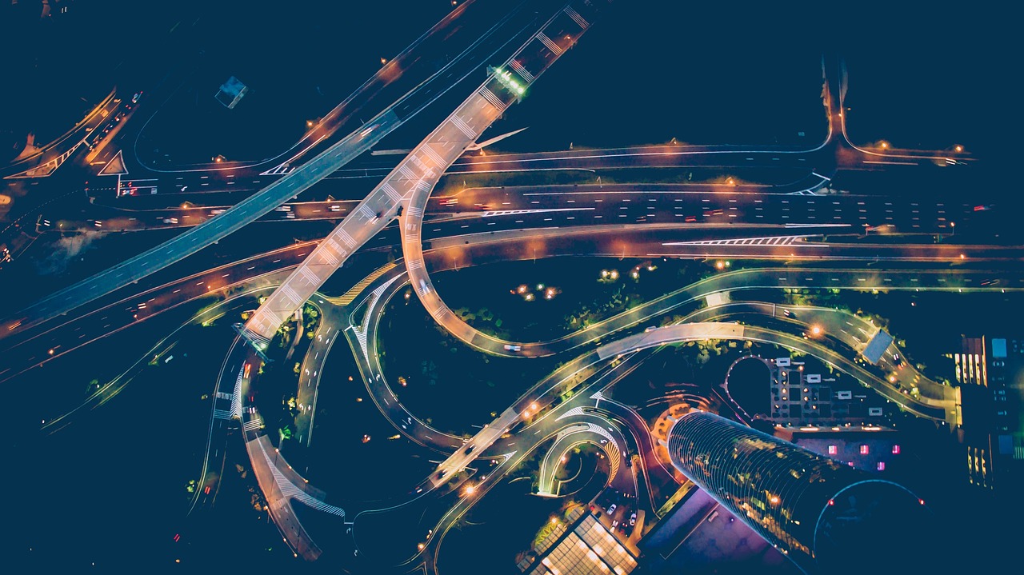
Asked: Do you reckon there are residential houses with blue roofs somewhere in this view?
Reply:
Yes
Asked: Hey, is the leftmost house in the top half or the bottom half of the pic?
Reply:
top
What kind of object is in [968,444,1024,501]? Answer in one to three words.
building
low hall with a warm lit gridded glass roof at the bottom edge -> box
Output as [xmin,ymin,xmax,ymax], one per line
[522,510,641,575]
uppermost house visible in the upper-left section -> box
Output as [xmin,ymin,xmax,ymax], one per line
[215,75,252,112]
